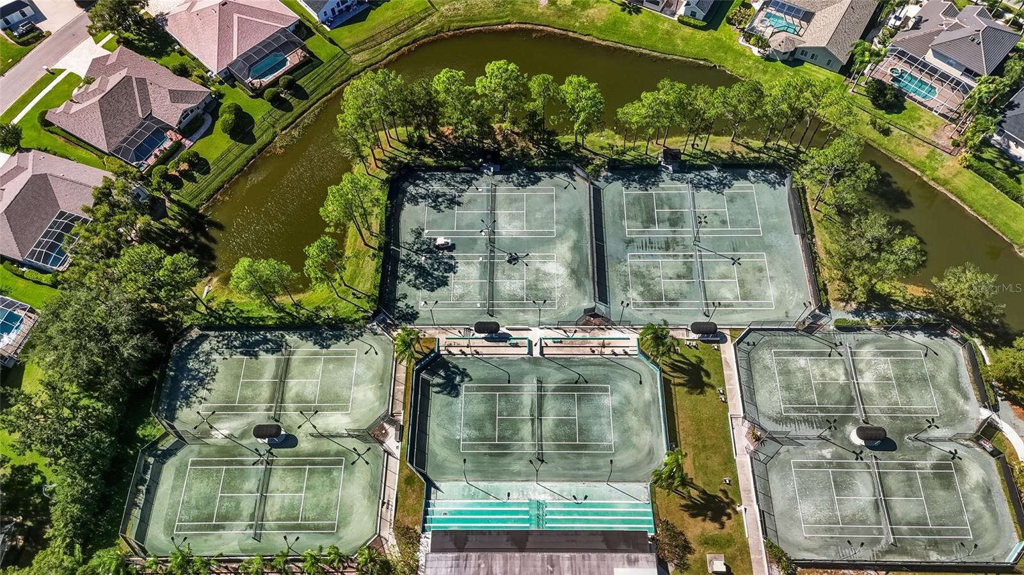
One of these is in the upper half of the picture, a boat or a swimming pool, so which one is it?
swimming pool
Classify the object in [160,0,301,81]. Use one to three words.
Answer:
house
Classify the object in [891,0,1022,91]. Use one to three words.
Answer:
house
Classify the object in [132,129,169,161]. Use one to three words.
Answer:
swimming pool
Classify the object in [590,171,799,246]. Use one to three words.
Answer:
tennis court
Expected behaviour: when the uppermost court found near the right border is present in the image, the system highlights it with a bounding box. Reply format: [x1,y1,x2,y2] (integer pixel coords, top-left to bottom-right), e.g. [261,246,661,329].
[736,330,979,432]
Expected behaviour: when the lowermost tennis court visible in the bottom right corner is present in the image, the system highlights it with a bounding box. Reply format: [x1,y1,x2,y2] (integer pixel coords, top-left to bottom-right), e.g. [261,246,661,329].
[749,432,1023,560]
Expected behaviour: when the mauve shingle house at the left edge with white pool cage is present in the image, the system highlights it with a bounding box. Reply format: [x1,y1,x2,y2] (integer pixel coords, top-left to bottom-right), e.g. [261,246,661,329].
[0,150,115,262]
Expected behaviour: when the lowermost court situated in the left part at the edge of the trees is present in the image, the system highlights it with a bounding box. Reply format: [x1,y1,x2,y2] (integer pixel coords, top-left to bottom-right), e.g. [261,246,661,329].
[131,432,383,556]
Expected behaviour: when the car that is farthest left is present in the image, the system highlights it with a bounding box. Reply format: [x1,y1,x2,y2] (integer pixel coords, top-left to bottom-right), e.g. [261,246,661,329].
[13,21,35,34]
